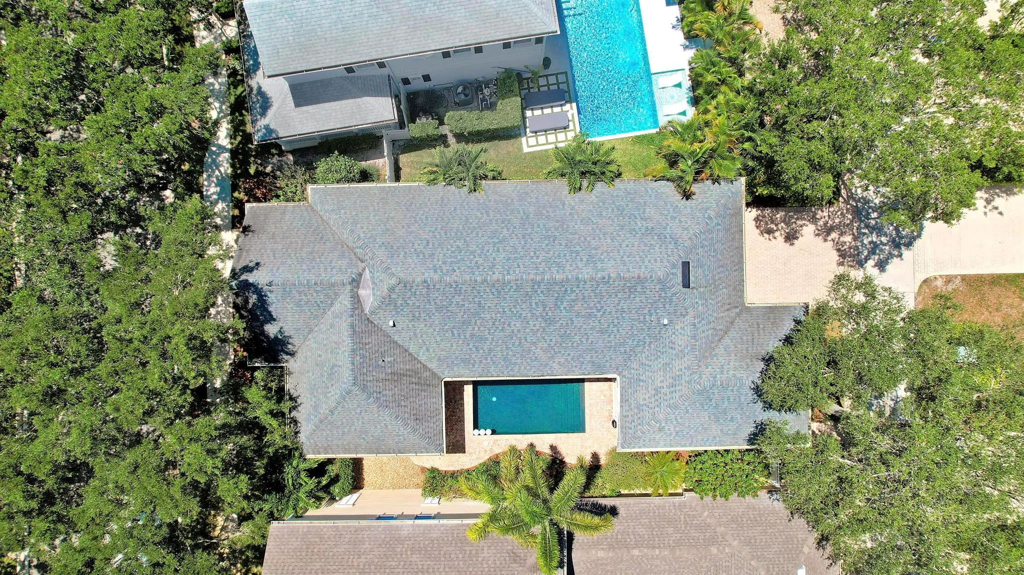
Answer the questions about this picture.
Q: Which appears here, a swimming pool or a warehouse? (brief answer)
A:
swimming pool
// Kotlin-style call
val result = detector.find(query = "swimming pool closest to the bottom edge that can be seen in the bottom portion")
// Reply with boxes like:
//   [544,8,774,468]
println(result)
[473,380,584,435]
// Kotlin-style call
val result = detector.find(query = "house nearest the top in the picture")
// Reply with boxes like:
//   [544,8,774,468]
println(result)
[229,0,562,152]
